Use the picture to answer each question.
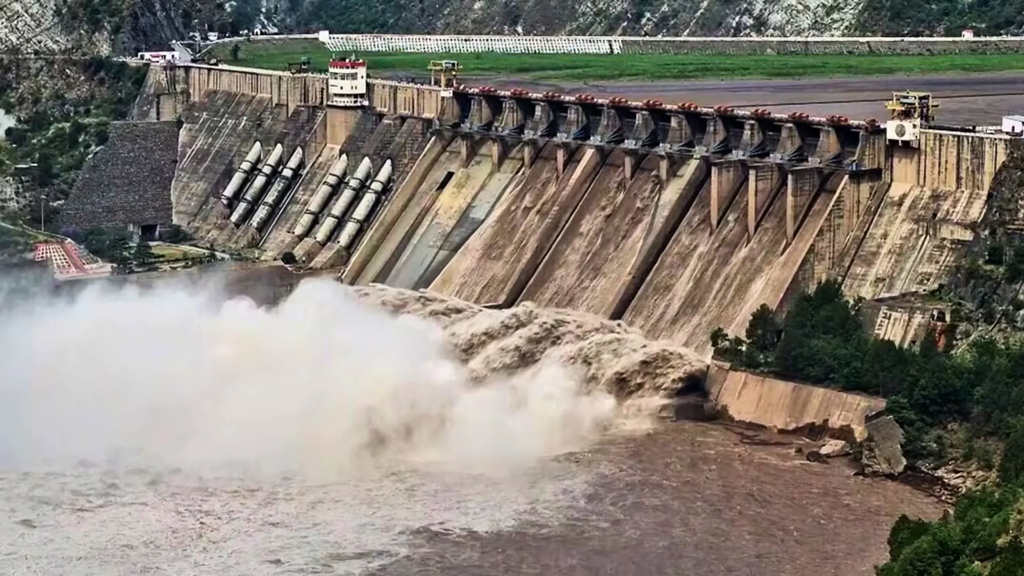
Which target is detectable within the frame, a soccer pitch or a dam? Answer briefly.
dam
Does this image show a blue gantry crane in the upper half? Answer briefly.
No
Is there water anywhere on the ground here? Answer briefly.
Yes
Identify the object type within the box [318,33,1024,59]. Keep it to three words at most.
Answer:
dam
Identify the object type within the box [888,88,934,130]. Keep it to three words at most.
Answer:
container crane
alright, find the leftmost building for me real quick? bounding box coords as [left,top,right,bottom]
[137,50,183,65]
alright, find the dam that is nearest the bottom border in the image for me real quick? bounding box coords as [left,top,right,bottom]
[141,61,1024,321]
